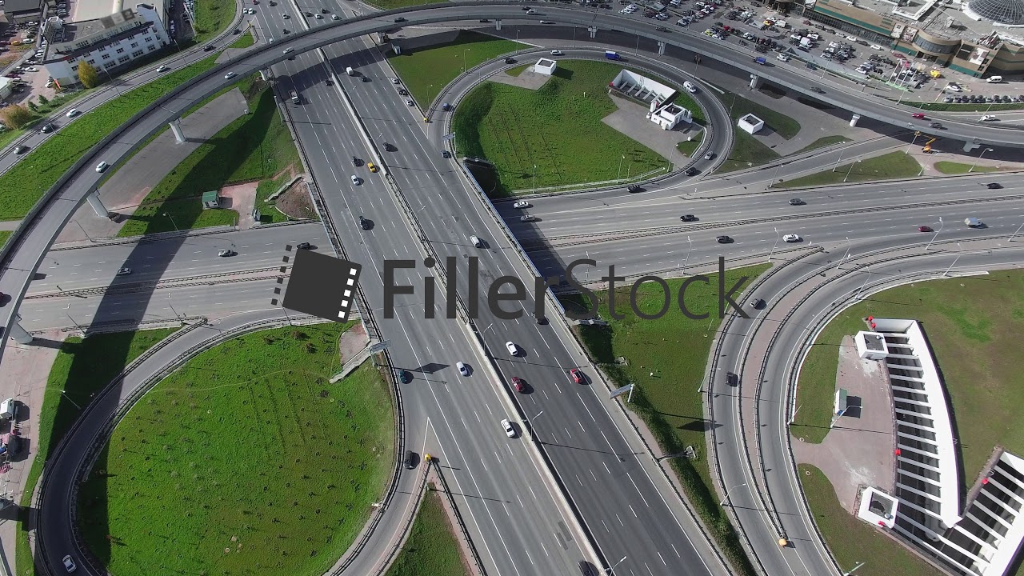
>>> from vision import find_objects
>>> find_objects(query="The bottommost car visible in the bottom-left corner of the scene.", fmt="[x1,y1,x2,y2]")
[60,552,79,574]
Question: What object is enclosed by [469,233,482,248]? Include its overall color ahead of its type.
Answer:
white vehicle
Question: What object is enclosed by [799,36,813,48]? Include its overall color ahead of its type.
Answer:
white vehicle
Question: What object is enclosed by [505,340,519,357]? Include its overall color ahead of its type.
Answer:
white car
